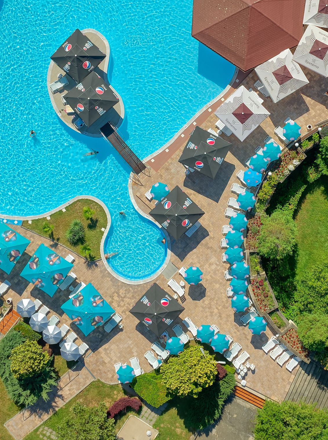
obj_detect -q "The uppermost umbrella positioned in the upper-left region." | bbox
[50,28,106,83]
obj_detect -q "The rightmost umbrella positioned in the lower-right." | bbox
[248,317,267,335]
